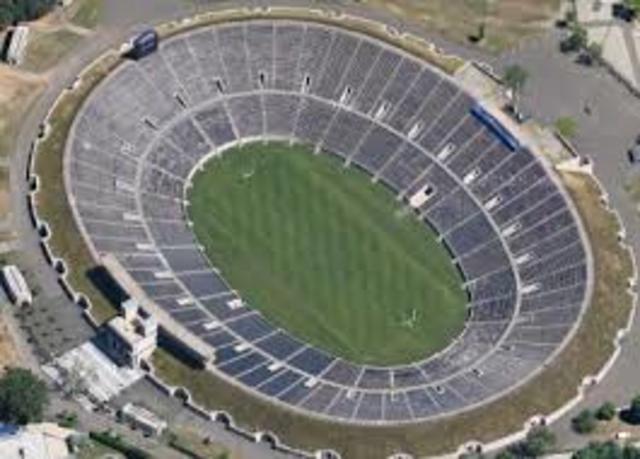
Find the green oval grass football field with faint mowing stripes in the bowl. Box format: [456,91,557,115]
[184,139,471,368]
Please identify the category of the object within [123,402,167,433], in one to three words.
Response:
shed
